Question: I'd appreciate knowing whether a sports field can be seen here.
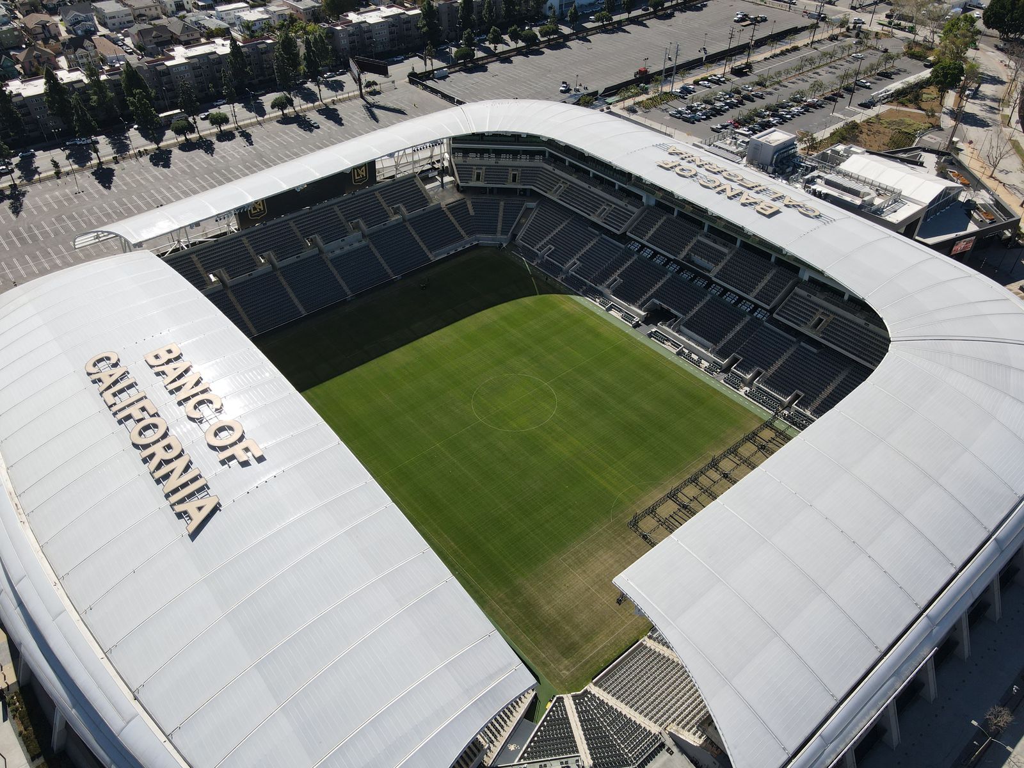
Yes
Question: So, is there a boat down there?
No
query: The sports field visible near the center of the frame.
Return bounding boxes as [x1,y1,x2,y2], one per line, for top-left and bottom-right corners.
[246,244,795,687]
